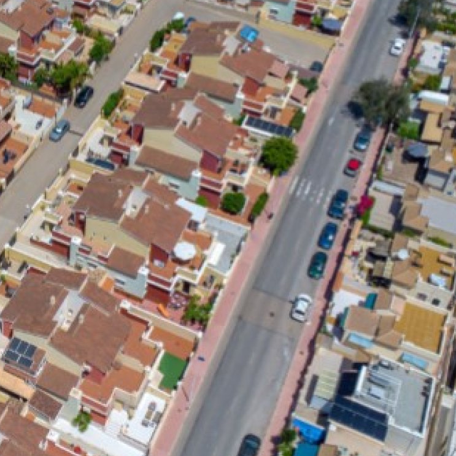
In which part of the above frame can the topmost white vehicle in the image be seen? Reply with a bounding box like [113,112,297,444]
[389,39,404,55]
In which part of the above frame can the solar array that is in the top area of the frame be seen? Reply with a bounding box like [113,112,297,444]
[249,117,289,137]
